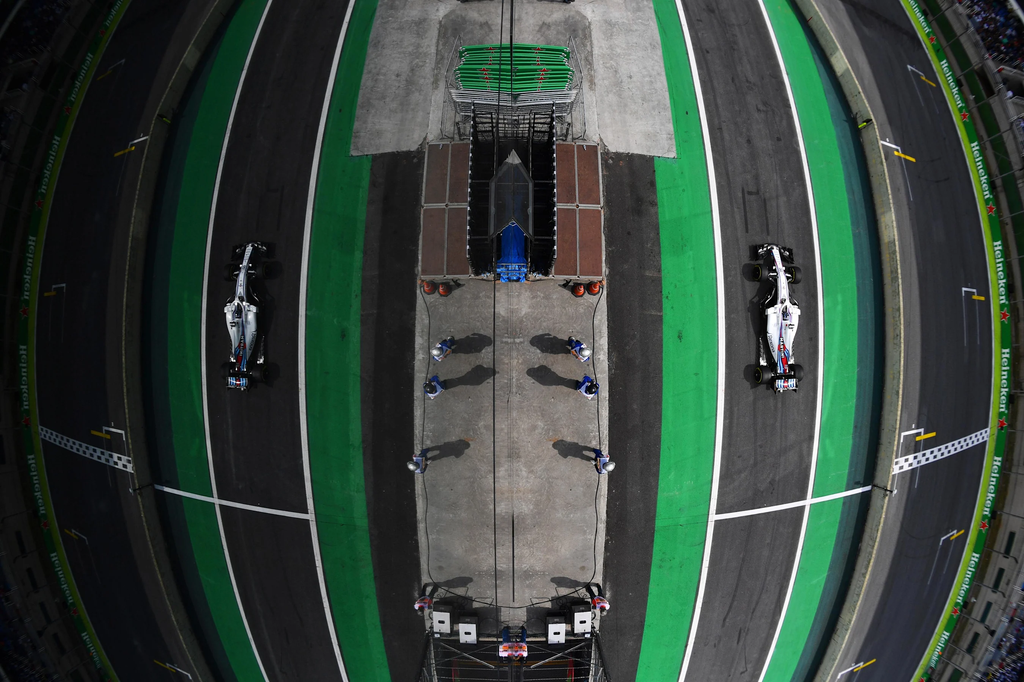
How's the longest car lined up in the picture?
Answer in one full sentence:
The longest car is laid out from top to bottom.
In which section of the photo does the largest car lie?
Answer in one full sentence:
You can find the largest car in the right area of the picture.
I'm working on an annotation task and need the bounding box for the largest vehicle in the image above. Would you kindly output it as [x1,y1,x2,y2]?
[751,244,808,394]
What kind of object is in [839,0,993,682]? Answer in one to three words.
race track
